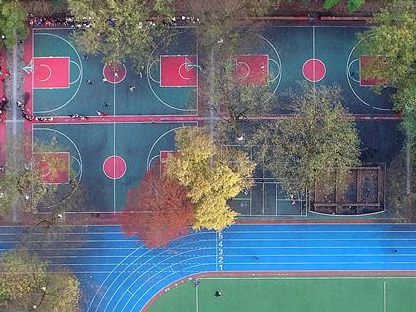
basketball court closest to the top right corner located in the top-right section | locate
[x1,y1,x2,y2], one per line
[233,25,397,116]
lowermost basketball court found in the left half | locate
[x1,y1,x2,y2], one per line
[32,122,198,214]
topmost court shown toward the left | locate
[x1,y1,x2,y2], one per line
[32,27,198,117]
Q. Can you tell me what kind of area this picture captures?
sports ground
